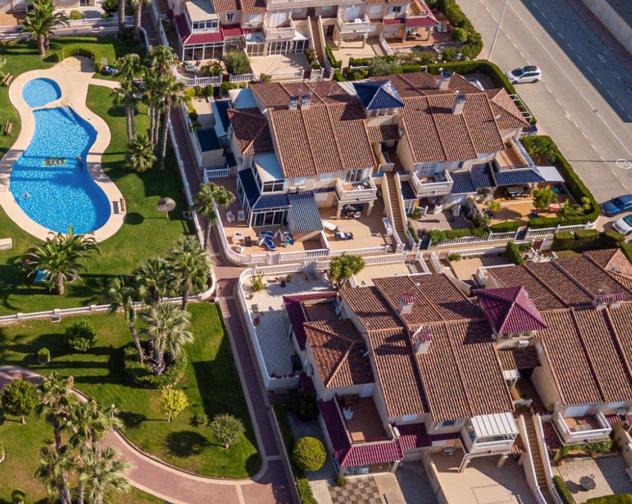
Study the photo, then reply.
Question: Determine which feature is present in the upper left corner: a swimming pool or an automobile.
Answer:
swimming pool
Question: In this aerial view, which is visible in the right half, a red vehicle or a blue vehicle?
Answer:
blue vehicle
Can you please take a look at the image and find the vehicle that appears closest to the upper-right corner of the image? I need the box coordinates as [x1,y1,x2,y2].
[507,67,547,85]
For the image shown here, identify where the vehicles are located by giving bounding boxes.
[507,67,547,85]
[603,196,632,218]
[614,213,632,234]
